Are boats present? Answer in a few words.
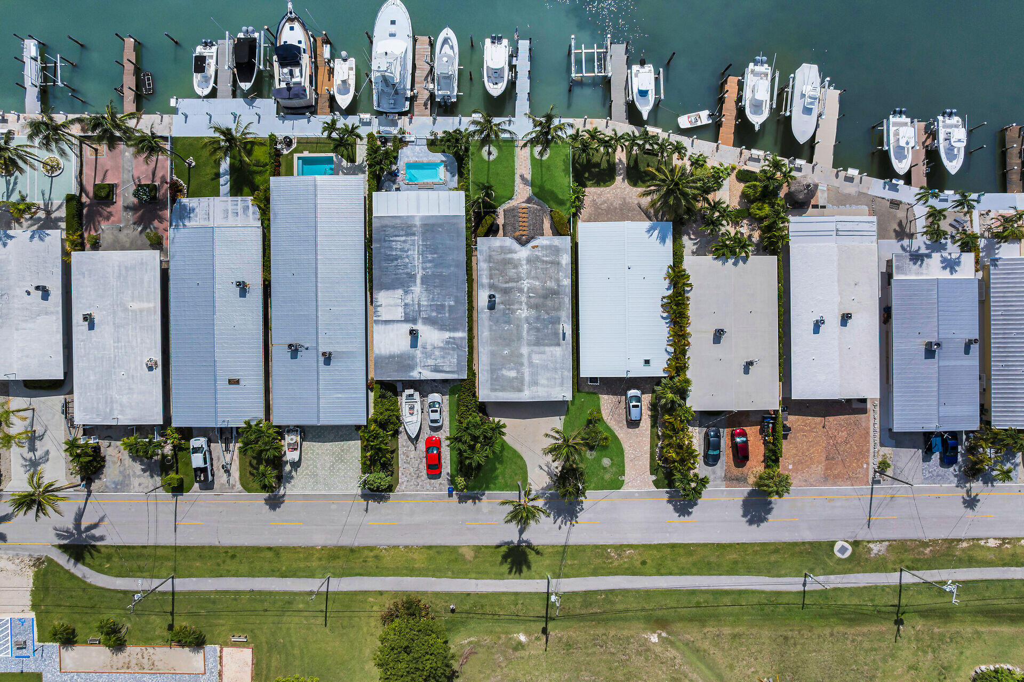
Yes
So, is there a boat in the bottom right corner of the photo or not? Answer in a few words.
No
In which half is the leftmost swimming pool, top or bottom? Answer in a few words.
top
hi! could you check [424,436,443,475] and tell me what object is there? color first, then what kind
red car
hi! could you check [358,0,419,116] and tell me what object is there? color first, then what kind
white boat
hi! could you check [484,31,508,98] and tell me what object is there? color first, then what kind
white boat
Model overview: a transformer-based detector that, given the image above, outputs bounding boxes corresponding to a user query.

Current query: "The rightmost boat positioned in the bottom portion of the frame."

[403,383,421,437]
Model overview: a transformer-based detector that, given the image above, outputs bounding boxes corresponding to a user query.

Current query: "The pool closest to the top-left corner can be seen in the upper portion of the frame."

[294,153,337,176]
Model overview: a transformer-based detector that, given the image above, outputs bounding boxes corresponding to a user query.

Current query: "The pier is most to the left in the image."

[24,39,47,114]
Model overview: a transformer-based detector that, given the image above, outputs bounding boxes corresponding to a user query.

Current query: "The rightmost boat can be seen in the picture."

[936,109,992,175]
